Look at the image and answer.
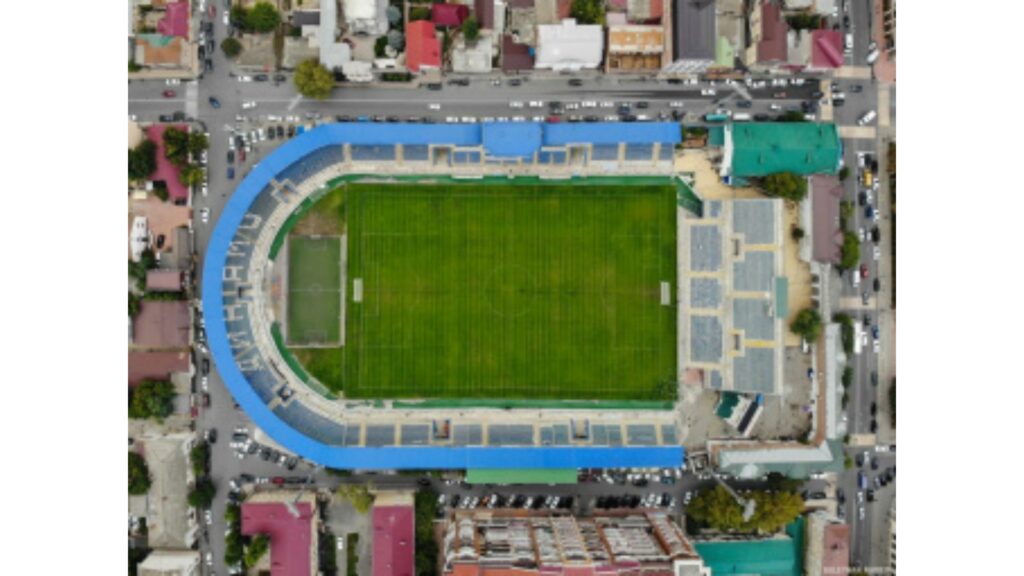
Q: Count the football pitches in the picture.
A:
2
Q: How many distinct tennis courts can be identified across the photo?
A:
none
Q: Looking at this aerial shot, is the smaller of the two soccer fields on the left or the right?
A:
left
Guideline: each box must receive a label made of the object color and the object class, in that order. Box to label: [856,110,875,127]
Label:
white vehicle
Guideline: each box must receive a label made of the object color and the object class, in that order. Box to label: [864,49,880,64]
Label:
white vehicle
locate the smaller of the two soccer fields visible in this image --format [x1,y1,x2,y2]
[283,234,343,348]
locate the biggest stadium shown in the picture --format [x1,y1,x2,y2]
[203,122,683,484]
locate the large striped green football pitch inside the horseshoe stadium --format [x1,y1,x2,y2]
[345,184,676,401]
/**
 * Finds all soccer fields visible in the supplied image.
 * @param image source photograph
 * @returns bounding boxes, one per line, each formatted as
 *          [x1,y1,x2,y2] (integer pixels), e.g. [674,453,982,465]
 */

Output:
[283,234,343,348]
[345,184,676,401]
